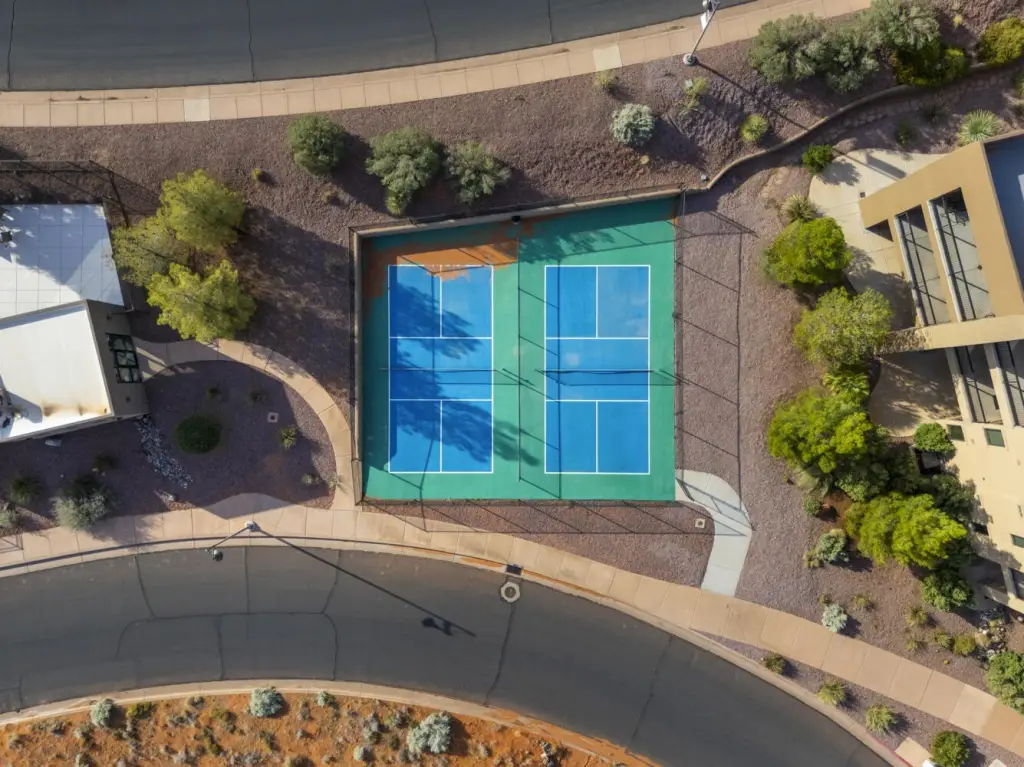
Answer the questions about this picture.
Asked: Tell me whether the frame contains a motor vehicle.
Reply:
No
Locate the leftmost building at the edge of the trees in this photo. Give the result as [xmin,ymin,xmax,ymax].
[0,205,151,440]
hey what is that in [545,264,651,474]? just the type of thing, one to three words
sports court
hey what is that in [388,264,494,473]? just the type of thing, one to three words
sports court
